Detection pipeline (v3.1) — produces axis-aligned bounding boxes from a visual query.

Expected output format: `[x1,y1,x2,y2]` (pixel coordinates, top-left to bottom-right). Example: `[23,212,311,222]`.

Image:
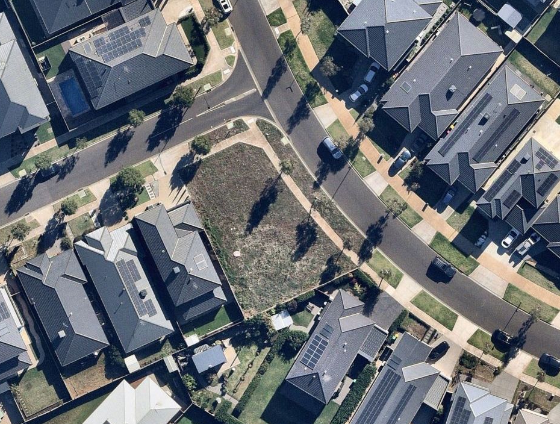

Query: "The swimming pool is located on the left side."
[59,75,90,113]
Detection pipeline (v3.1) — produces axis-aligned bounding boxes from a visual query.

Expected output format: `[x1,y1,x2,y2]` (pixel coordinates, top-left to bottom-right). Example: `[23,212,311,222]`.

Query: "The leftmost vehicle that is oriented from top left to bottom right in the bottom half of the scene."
[428,256,457,279]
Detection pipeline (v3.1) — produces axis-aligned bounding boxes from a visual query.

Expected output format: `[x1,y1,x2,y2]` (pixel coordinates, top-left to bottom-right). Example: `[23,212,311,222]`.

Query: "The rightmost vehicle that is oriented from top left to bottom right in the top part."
[321,132,345,163]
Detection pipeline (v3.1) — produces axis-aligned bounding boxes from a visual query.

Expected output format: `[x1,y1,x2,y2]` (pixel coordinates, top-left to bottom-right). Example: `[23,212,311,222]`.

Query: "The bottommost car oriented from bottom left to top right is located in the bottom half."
[429,337,452,365]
